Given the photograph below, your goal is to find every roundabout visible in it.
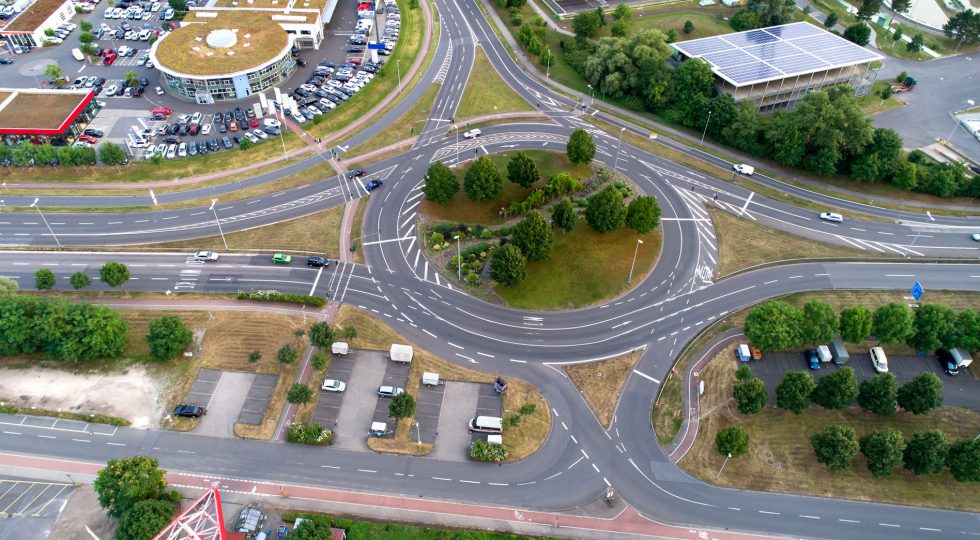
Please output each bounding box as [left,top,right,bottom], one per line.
[362,124,719,358]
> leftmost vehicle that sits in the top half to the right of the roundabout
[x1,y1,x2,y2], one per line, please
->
[731,162,754,175]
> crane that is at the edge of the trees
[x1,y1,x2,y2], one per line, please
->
[151,483,233,540]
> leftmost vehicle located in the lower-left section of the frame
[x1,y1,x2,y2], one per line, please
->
[175,404,204,418]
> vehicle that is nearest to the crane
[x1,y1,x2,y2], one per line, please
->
[231,501,252,531]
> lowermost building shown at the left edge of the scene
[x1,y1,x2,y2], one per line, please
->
[0,90,98,148]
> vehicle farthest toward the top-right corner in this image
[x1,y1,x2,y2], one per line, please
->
[894,79,918,94]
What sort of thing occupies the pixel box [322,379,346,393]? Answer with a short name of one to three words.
vehicle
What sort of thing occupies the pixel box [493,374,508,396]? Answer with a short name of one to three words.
car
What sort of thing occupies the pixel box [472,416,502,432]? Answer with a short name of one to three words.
vehicle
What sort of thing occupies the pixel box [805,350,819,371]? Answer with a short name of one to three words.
car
